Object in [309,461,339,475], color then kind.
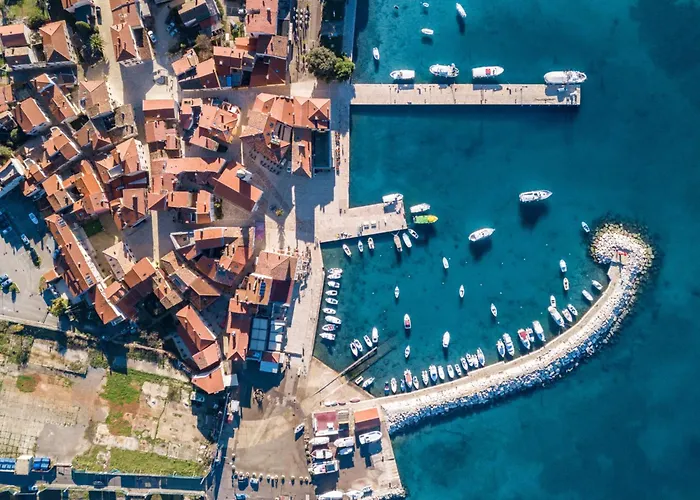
white boat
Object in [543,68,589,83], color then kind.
white boat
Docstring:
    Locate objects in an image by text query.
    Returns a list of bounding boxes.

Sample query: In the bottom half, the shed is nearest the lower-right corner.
[353,405,382,434]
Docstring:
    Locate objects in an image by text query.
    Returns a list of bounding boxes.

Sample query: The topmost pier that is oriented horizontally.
[348,83,580,106]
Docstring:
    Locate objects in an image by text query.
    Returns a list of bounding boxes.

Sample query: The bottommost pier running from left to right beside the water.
[319,201,407,243]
